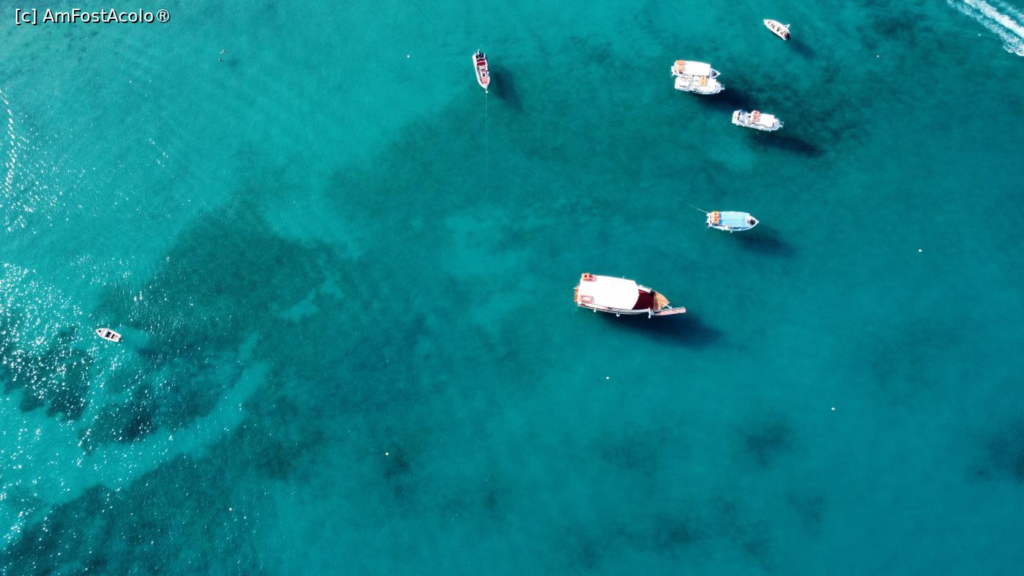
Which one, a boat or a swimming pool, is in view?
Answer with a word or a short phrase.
boat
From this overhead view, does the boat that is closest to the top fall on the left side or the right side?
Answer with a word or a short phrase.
right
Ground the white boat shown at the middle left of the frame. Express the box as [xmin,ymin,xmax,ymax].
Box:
[95,328,124,343]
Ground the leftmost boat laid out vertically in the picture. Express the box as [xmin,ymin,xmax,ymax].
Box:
[473,47,490,89]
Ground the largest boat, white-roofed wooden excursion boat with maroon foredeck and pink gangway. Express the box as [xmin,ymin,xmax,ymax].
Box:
[574,275,686,318]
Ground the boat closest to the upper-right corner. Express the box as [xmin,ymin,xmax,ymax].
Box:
[764,19,790,42]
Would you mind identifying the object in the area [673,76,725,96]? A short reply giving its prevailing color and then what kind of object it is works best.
white boat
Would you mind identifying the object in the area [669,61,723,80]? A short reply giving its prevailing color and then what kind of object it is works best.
white boat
